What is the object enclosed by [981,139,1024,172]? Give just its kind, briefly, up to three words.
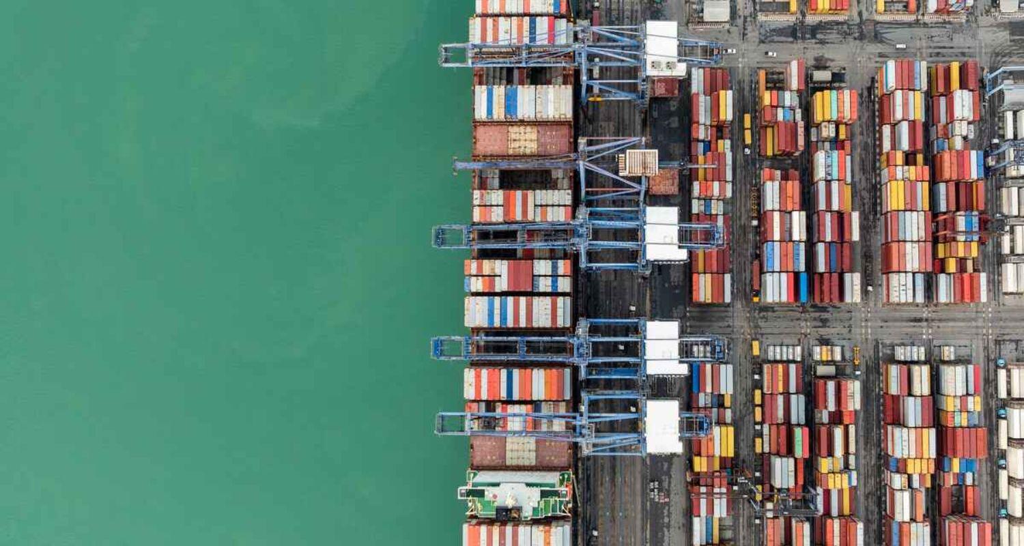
container crane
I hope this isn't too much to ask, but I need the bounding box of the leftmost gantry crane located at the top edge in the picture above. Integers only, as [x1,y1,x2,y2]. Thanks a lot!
[438,22,724,122]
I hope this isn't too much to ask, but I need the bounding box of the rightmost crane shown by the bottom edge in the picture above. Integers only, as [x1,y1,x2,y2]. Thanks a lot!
[748,475,819,520]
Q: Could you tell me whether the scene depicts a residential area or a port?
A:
port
